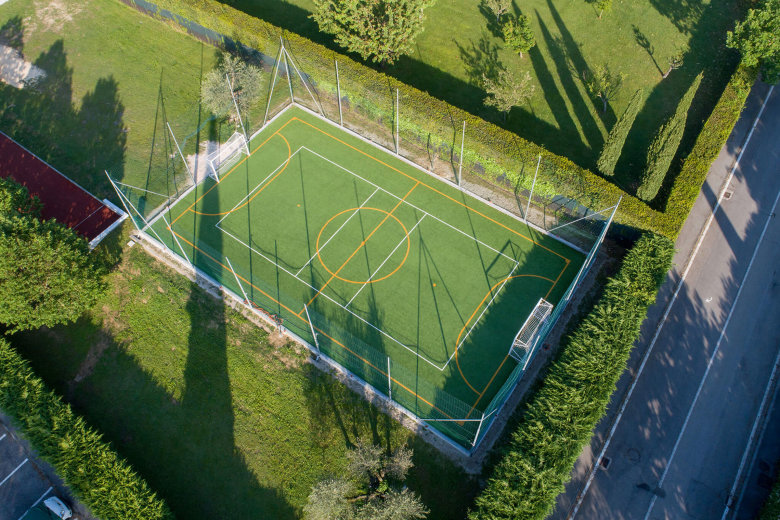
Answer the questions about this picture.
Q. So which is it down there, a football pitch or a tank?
football pitch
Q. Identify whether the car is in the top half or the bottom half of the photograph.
bottom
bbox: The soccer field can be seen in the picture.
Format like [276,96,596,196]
[136,99,599,462]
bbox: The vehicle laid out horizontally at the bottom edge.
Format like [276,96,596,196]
[20,499,71,520]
